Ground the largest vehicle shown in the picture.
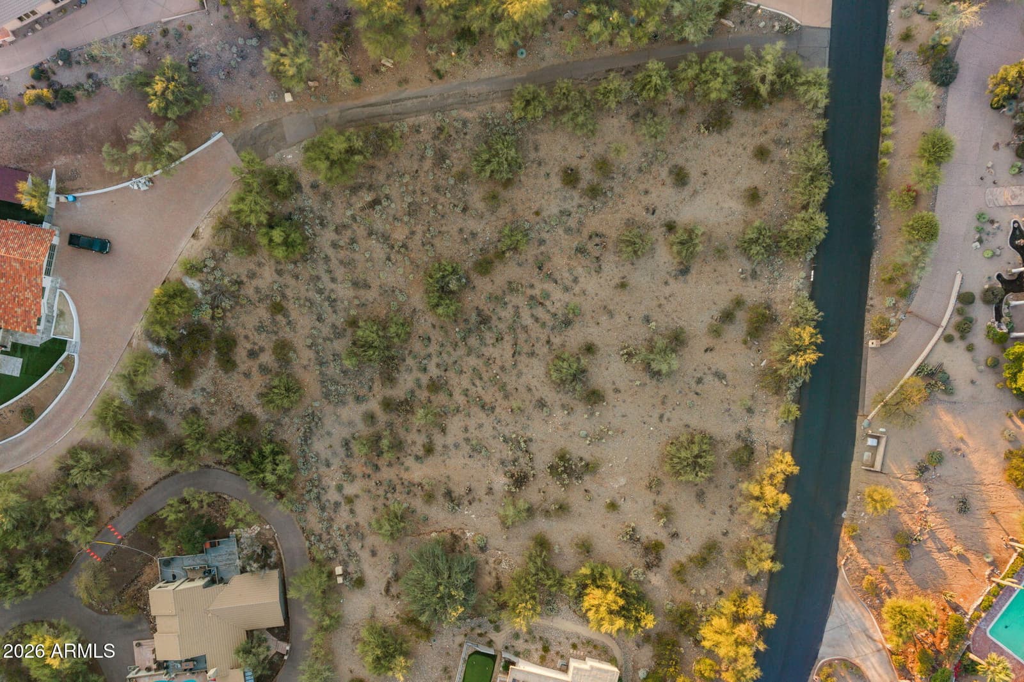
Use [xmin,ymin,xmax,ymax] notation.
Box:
[68,234,112,253]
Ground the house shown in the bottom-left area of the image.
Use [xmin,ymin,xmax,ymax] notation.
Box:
[149,567,288,682]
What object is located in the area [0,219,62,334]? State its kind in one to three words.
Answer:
house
